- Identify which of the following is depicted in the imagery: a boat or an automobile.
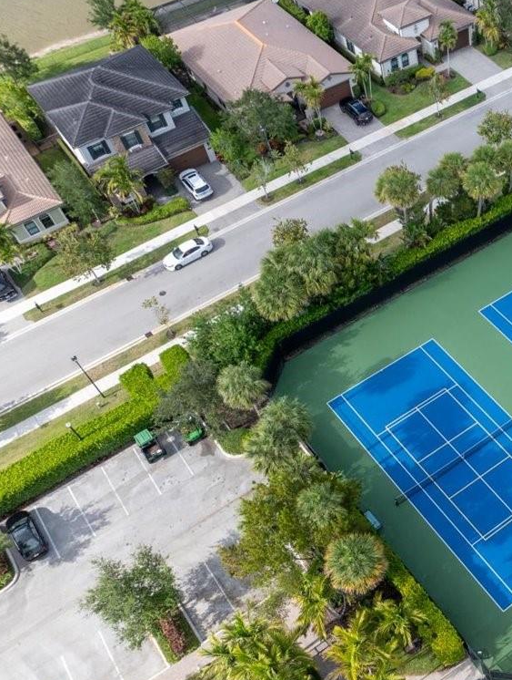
automobile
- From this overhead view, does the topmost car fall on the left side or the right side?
right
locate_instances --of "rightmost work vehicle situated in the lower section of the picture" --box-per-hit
[170,420,204,450]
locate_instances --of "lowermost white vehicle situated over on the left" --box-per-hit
[162,231,213,264]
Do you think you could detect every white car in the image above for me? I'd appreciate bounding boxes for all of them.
[176,170,207,199]
[162,231,213,264]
